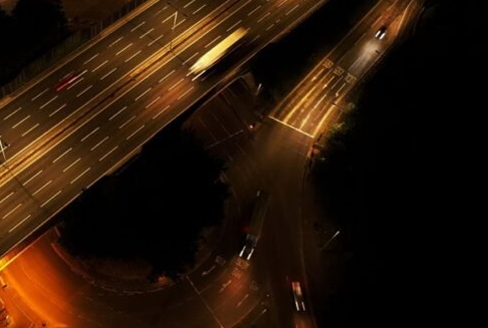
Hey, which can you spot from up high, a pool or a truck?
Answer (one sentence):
This aerial view contains a truck.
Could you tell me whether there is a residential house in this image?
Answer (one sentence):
No, the photo shows no residential house.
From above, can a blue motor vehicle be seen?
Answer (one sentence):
No, no blue motor vehicle is visible in the scene.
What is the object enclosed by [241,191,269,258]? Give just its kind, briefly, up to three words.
truck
